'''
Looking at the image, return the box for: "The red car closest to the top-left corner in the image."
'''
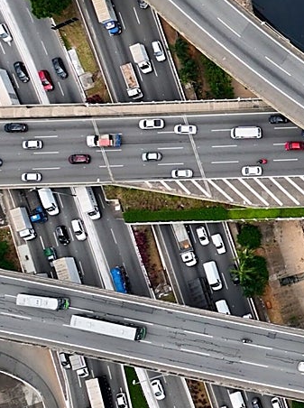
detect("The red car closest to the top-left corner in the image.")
[38,69,54,90]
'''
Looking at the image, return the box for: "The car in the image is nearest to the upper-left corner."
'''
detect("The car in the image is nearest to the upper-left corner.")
[0,23,13,44]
